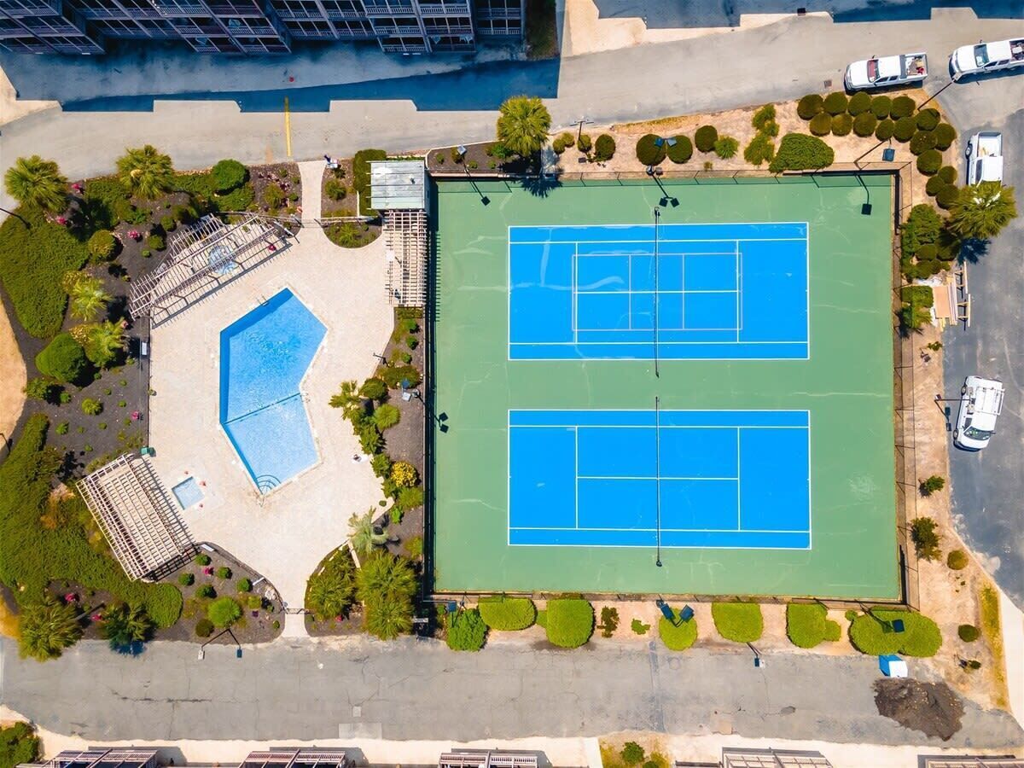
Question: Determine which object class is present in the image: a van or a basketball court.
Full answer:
Looking from above, you can make out a van.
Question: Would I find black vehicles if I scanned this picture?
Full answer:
No, no black vehicle is visible in the view.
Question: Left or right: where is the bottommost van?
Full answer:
The bottommost van sits on the right side.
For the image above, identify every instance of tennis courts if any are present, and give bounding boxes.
[509,409,812,549]
[509,222,809,360]
[433,174,901,600]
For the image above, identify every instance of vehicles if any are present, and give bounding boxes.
[844,54,927,93]
[955,376,1006,449]
[947,40,1024,80]
[966,133,1005,192]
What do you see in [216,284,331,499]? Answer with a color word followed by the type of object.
blue swimming pool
